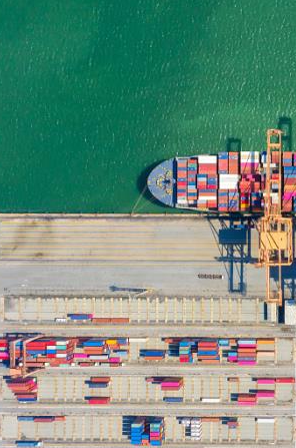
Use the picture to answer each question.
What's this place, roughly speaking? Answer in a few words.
port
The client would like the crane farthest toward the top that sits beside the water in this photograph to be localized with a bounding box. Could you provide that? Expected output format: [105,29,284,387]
[258,129,296,306]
